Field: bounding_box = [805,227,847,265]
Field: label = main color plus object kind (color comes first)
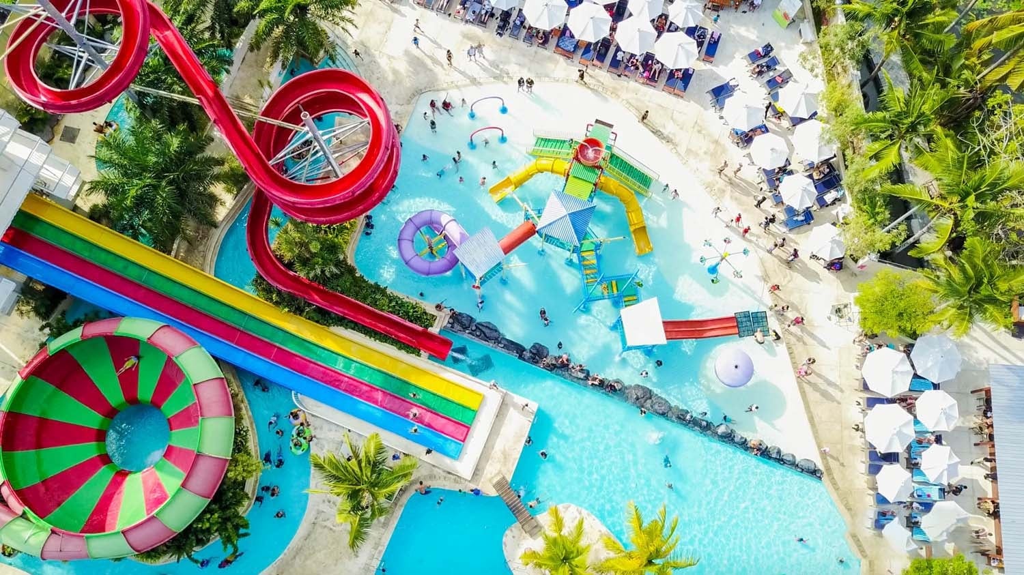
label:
white umbrella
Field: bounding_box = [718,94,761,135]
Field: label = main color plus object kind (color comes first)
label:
white umbrella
